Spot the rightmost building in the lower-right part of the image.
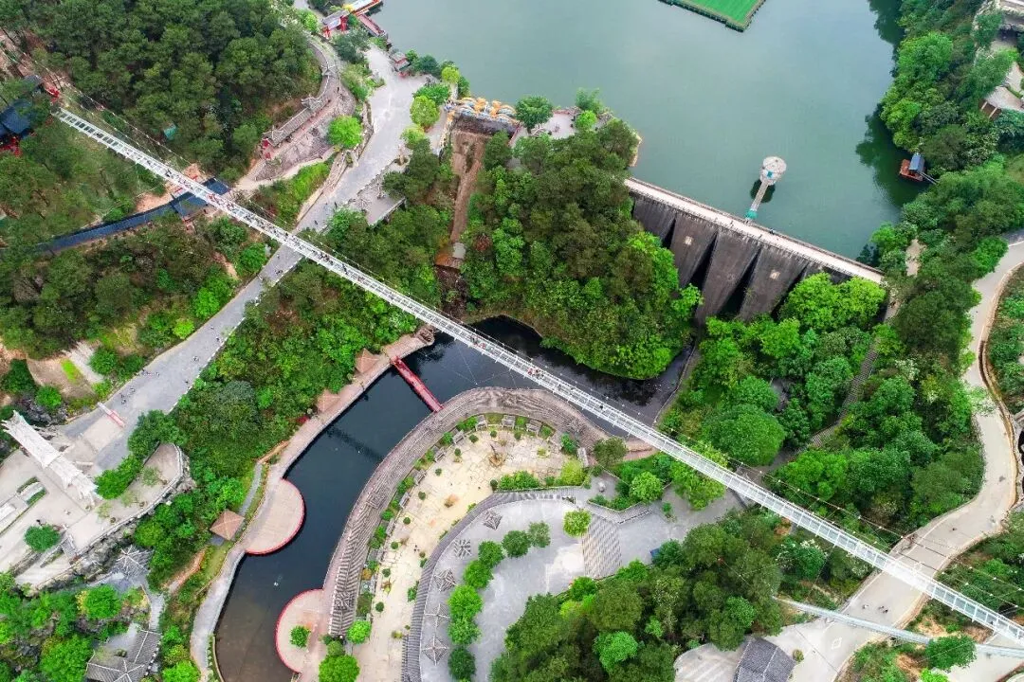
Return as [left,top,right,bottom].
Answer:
[726,631,799,682]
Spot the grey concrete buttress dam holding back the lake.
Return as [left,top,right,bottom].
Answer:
[629,174,906,336]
